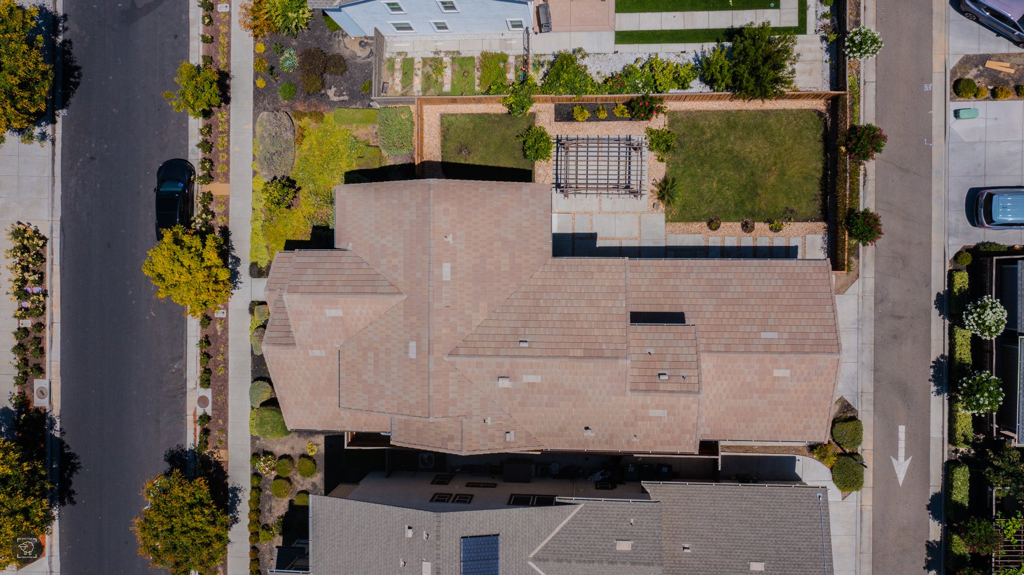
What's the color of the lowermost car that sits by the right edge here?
blue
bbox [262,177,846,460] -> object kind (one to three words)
house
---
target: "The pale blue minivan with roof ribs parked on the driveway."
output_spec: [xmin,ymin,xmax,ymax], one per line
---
[972,187,1024,228]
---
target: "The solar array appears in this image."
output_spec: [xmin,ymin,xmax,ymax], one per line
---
[463,530,500,575]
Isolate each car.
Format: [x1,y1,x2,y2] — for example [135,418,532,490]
[972,187,1024,228]
[955,0,1024,54]
[153,158,200,246]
